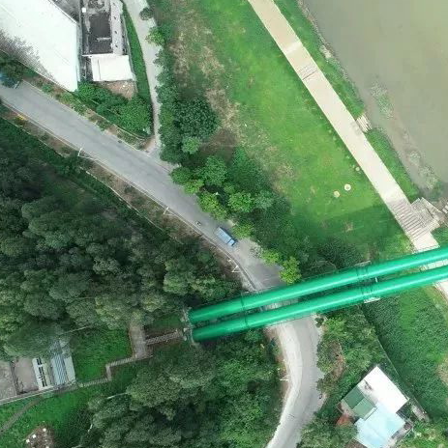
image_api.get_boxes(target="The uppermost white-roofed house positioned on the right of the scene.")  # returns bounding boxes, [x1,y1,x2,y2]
[359,364,408,412]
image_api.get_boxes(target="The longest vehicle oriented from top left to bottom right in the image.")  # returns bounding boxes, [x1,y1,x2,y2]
[209,226,235,247]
